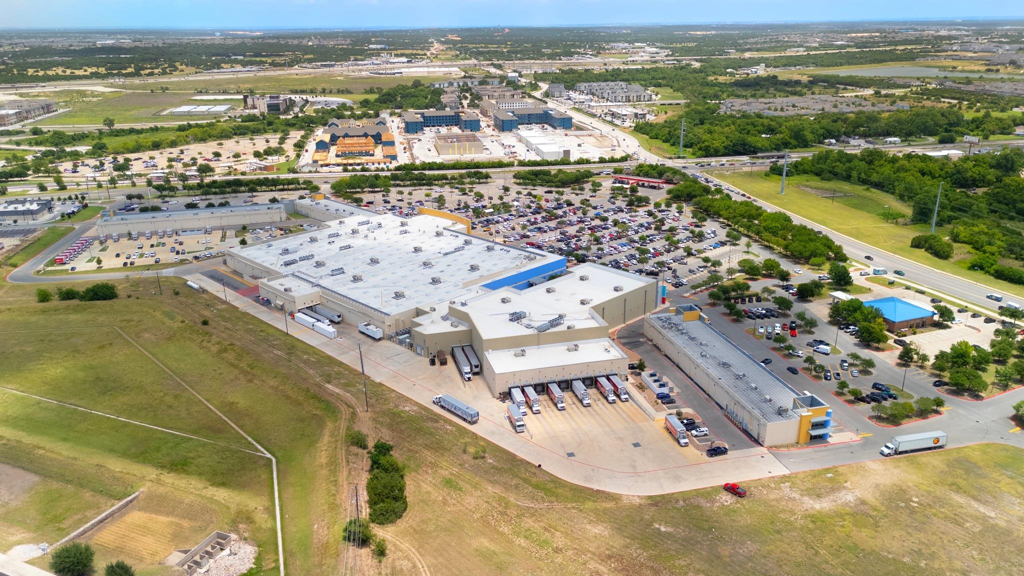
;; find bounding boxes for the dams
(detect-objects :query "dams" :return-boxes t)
[166,530,227,576]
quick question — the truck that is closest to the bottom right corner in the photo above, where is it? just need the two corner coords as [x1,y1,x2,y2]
[881,432,954,457]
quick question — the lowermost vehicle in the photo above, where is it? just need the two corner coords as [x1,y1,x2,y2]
[723,483,747,496]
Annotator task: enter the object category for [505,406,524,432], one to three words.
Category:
vehicle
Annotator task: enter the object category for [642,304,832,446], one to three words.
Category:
building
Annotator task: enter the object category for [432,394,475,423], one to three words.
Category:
truck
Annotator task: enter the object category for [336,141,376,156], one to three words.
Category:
house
